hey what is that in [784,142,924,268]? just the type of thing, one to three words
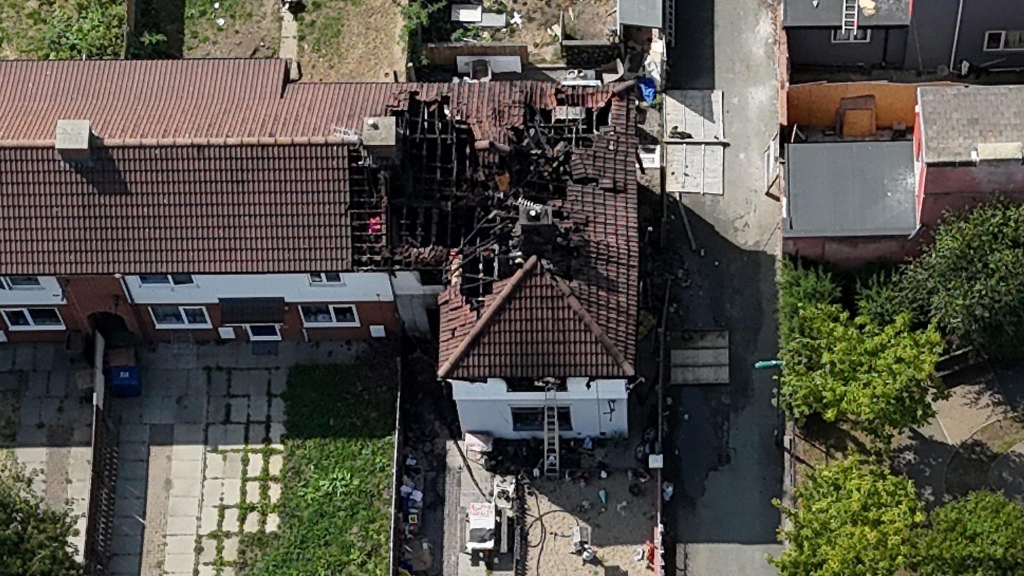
building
